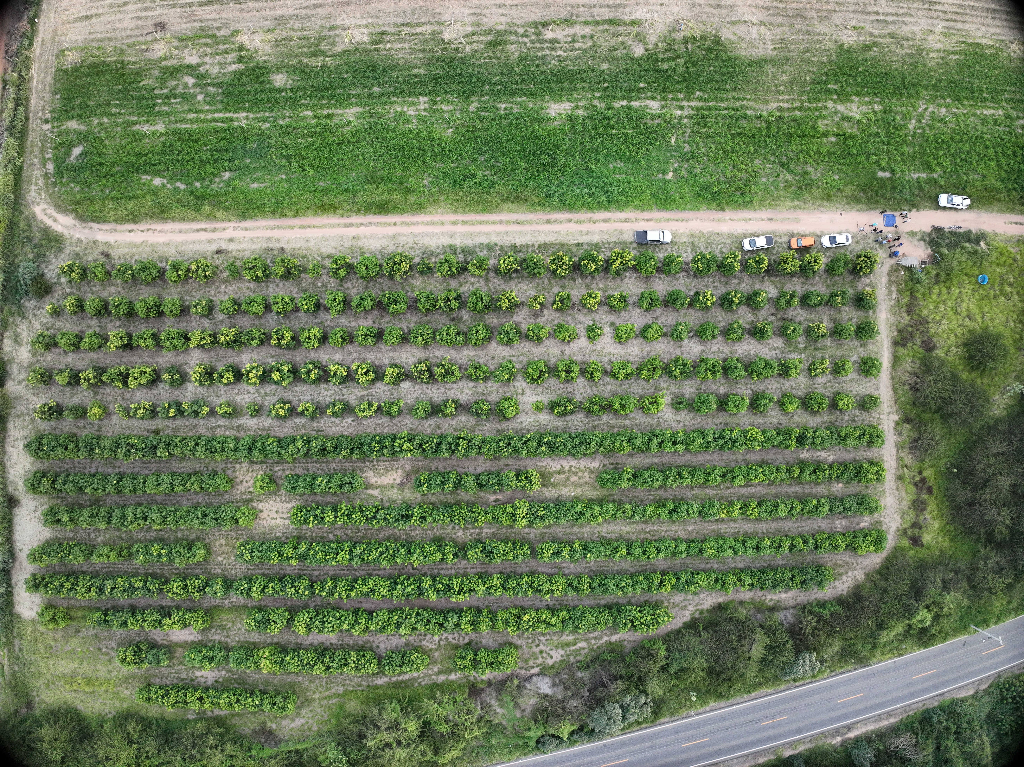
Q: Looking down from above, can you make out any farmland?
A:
Yes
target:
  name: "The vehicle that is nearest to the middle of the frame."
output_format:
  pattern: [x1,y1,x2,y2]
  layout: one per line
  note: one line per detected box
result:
[634,229,671,245]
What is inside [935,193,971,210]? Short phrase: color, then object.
white vehicle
